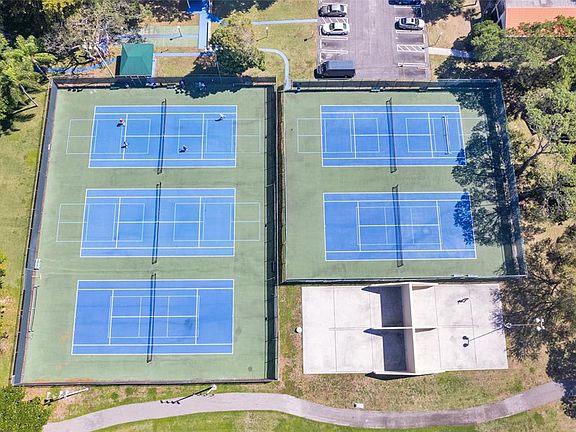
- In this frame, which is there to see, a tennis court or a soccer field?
tennis court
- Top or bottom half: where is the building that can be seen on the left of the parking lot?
top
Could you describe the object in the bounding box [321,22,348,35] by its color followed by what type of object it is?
white vehicle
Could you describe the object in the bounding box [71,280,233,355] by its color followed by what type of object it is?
blue tennis court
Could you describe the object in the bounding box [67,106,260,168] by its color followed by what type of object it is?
blue tennis court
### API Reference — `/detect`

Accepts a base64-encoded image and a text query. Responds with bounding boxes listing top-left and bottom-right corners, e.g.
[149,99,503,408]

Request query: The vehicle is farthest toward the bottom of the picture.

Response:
[318,59,356,76]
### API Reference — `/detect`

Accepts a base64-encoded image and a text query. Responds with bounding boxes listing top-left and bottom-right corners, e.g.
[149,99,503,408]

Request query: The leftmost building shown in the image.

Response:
[119,44,157,79]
